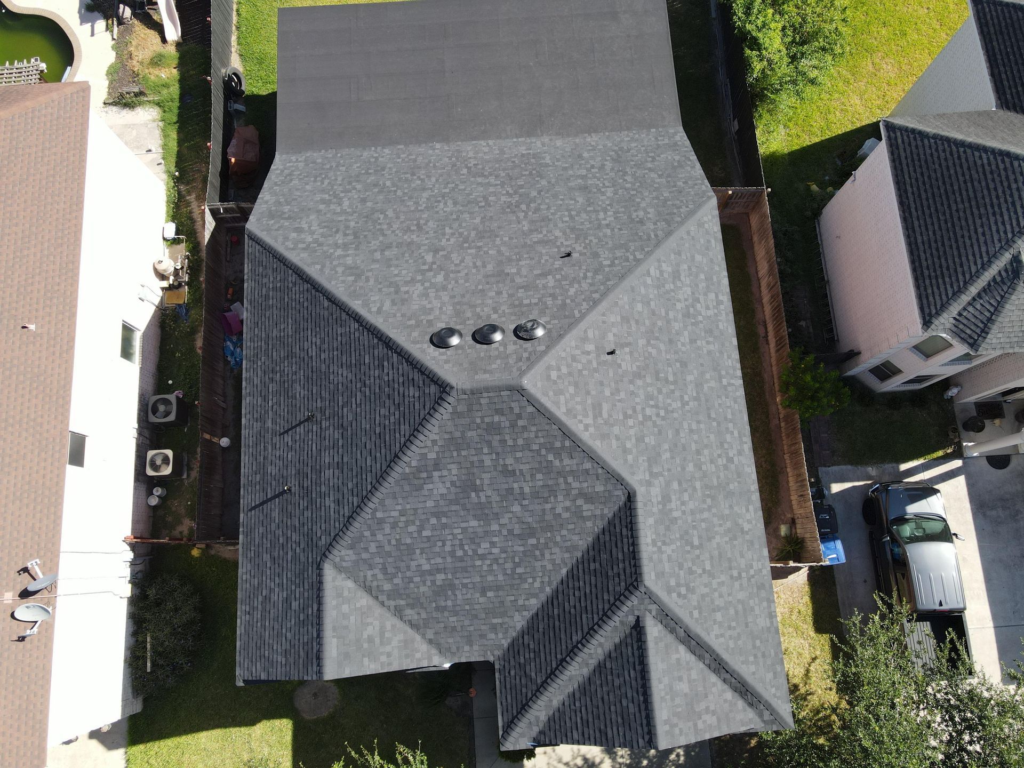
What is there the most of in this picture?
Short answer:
buildings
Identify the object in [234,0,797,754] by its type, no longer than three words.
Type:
house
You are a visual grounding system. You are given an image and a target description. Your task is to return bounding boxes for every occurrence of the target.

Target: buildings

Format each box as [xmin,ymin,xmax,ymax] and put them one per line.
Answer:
[234,0,797,754]
[817,0,1024,461]
[0,85,169,768]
